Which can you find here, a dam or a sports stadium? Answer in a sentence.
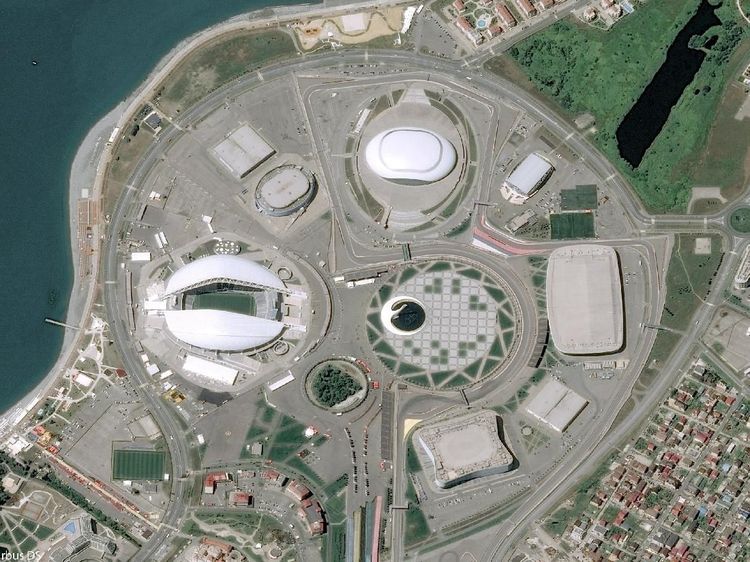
The one in the frame is a sports stadium.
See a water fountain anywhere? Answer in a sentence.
Yes, looking at the shot, I can spot a water fountain.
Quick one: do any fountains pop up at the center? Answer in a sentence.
Yes, at the center there is a fountain.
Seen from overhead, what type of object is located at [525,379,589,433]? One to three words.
building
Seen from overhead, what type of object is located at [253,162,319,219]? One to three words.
stadium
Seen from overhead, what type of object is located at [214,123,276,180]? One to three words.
building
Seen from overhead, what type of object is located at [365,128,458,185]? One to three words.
stadium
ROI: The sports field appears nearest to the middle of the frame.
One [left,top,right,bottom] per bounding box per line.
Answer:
[193,295,256,315]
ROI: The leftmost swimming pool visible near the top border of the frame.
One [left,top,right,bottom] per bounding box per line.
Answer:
[478,14,491,30]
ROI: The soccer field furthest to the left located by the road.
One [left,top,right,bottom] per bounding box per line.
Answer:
[110,441,164,481]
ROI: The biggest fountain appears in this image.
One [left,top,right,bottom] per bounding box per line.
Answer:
[382,296,426,335]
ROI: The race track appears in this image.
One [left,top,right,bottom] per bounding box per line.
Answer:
[301,73,663,562]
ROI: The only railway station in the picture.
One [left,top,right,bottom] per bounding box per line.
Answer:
[346,496,382,562]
